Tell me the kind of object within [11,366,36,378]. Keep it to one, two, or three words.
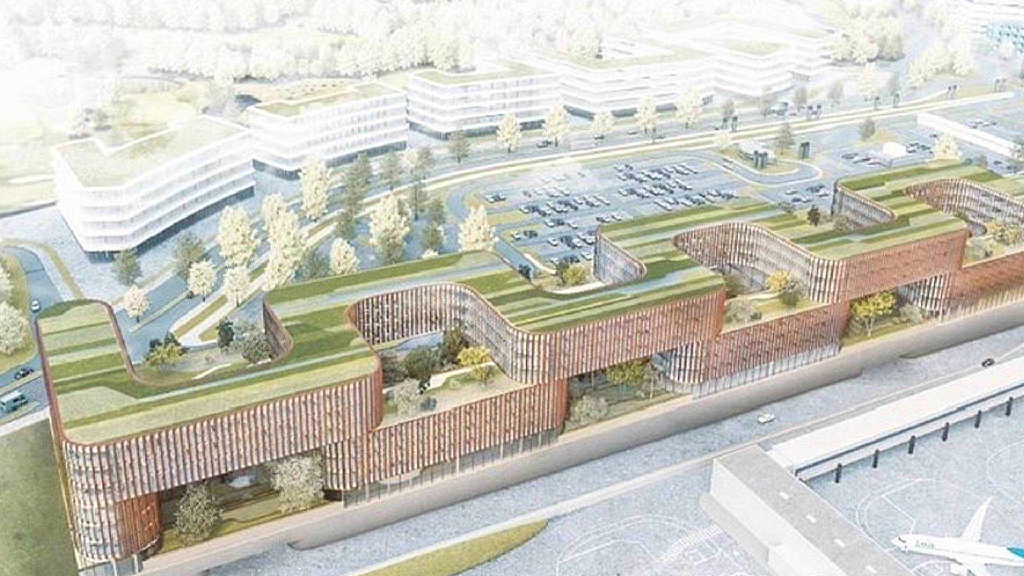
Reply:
vehicle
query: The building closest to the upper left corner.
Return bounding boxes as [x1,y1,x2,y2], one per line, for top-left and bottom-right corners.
[51,116,253,259]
